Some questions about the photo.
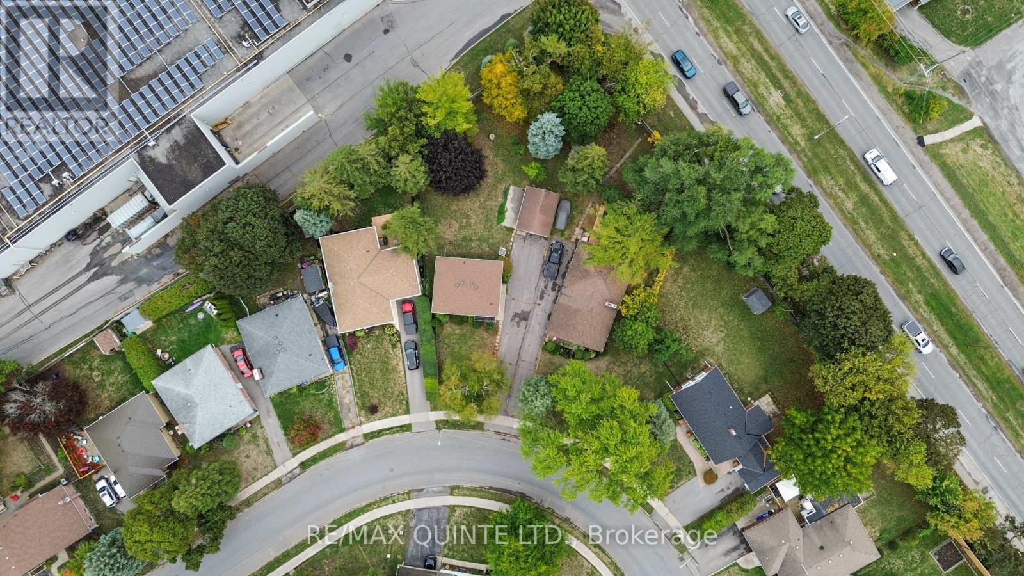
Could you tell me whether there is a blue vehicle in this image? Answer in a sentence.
Yes, this view includes a blue vehicle.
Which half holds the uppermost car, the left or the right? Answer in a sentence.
It is on the right.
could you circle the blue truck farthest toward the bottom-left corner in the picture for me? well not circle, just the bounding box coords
[322,333,347,373]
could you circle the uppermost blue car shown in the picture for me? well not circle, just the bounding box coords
[670,47,697,80]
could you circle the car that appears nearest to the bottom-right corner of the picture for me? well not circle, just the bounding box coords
[900,318,935,356]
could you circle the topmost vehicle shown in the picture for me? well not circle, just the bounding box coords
[784,4,812,36]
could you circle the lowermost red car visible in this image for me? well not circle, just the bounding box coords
[230,347,253,380]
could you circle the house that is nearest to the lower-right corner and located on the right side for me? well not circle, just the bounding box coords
[740,502,882,576]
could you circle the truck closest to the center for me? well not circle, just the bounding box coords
[542,240,563,279]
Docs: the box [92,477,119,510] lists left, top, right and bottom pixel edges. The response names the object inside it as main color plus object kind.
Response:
white car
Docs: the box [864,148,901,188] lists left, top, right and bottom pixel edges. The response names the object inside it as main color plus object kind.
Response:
white truck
